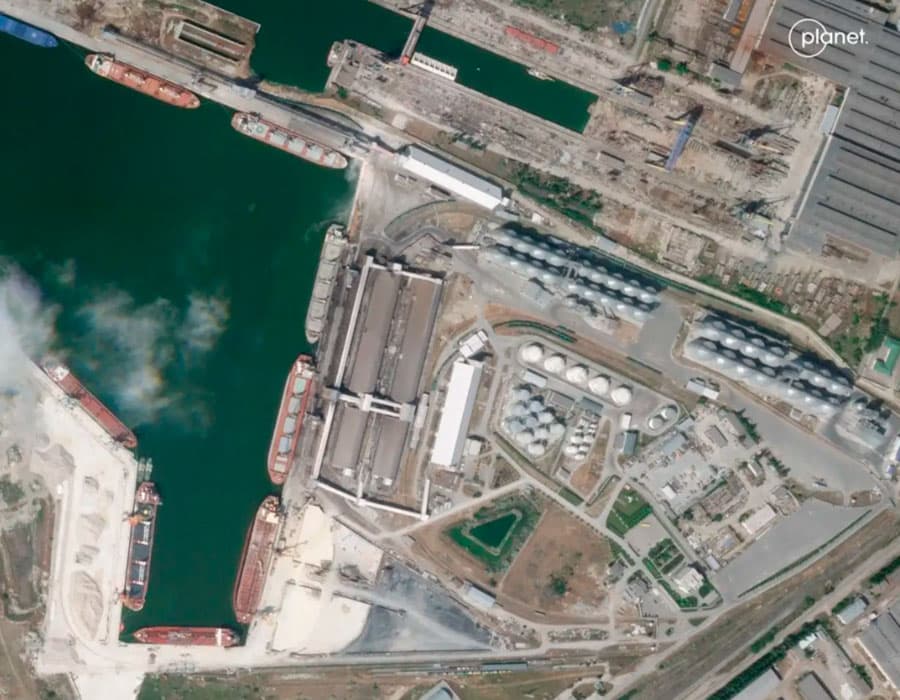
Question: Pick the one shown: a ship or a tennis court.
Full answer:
Looking from above, you can make out a ship.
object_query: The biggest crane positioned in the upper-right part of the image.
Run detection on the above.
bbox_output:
[654,120,692,172]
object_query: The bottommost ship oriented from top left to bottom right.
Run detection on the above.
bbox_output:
[43,358,134,446]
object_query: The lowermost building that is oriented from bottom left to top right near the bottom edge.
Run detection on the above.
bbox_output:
[732,667,783,700]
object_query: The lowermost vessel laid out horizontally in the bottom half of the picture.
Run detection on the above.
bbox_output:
[134,629,241,648]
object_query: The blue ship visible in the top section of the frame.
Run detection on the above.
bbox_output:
[0,13,58,46]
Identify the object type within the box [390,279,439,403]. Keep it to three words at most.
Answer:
shed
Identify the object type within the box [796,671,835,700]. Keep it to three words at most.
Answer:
building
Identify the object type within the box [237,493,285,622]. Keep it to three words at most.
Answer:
ship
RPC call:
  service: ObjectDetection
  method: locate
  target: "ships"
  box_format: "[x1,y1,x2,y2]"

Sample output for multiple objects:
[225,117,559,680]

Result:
[273,354,315,485]
[82,55,200,107]
[43,358,134,446]
[134,629,241,648]
[237,493,285,622]
[0,13,58,46]
[327,40,342,68]
[228,116,347,167]
[127,482,161,611]
[306,223,347,344]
